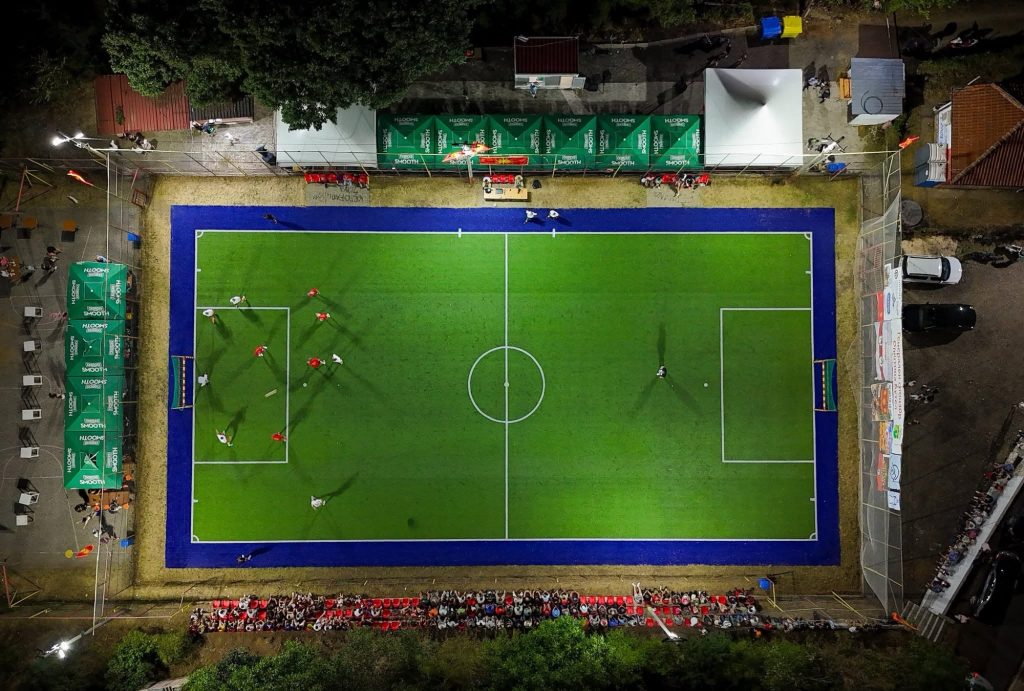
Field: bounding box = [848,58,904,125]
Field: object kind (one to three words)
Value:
shed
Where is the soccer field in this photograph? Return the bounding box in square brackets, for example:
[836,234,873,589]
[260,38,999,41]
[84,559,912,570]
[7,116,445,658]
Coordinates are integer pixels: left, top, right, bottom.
[165,206,841,568]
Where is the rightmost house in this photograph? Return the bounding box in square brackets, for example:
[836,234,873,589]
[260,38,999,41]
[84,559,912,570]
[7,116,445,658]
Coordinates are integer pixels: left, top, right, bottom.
[931,75,1024,196]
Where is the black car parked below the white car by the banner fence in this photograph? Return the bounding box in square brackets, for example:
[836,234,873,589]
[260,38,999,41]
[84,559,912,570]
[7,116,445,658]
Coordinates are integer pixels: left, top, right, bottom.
[898,300,974,334]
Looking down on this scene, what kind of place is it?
sports ground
